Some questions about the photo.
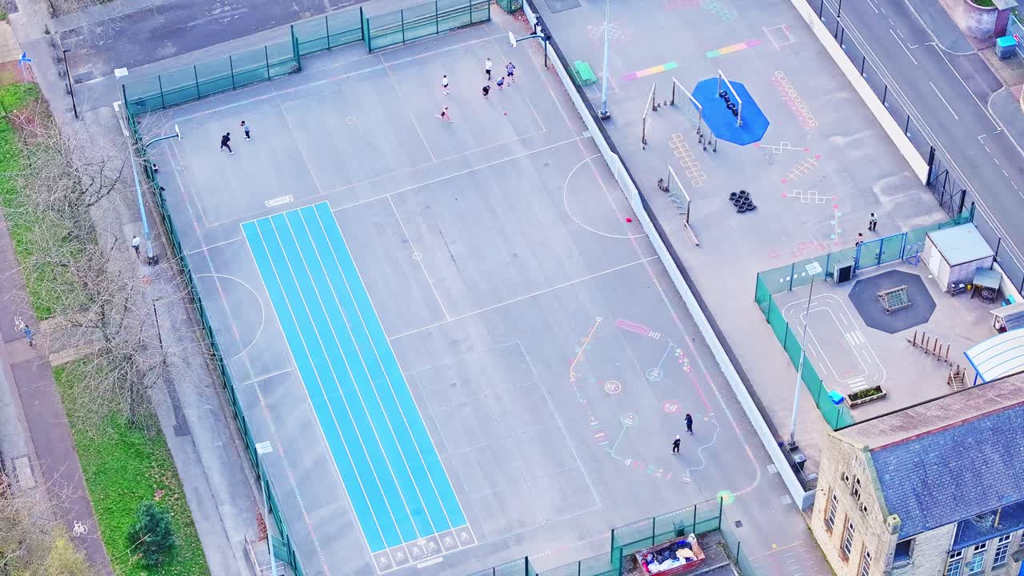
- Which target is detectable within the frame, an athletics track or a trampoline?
athletics track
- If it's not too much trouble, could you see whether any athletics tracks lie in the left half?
Yes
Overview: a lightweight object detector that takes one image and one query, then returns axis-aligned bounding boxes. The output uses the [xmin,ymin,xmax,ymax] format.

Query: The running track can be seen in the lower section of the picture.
[243,202,467,552]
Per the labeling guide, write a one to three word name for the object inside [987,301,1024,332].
shed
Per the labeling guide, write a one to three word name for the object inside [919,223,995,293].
shed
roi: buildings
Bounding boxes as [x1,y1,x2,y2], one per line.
[919,223,995,293]
[811,367,1024,576]
[987,301,1024,332]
